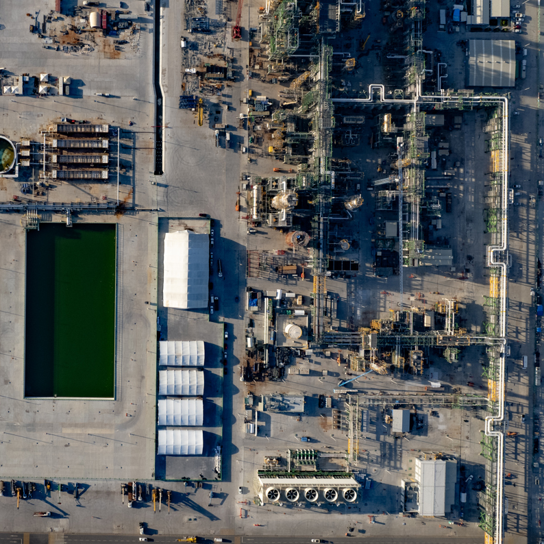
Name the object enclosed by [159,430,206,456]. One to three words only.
hangar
